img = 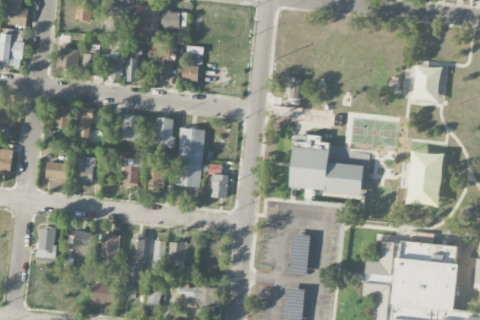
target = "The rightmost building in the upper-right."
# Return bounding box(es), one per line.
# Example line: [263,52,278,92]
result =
[410,64,444,104]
